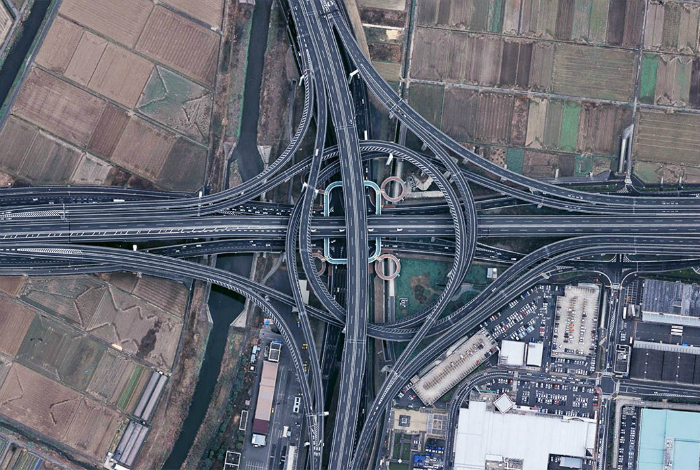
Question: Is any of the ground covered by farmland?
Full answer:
Yes, there is farmland in the image.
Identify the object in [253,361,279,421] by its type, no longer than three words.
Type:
building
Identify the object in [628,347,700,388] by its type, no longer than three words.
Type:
building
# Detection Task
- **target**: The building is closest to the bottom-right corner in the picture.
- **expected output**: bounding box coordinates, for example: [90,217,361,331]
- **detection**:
[636,408,700,470]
